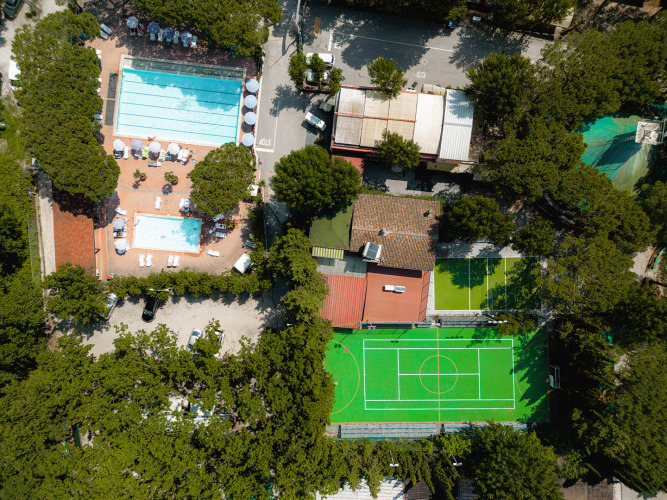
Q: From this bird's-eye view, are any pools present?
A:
Yes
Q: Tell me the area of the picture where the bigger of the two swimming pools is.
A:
top left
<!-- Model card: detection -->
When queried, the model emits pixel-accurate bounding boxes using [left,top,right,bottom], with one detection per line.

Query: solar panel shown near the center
[362,241,384,262]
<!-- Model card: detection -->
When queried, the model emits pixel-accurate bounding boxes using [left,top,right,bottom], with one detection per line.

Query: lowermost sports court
[321,327,550,423]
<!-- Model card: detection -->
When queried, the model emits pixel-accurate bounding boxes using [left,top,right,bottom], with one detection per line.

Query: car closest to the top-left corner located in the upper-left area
[2,0,22,20]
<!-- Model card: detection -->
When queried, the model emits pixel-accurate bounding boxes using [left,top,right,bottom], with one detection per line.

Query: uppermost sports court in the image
[435,258,541,310]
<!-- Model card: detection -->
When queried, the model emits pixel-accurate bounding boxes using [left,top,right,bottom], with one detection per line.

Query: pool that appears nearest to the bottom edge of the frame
[129,210,205,256]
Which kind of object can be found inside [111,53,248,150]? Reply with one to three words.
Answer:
swimming pool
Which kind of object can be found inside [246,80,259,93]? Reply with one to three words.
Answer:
umbrella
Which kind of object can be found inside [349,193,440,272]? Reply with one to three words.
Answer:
house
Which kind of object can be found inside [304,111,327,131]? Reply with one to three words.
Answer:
vehicle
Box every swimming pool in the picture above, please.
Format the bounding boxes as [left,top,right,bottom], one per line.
[129,210,205,256]
[111,53,248,150]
